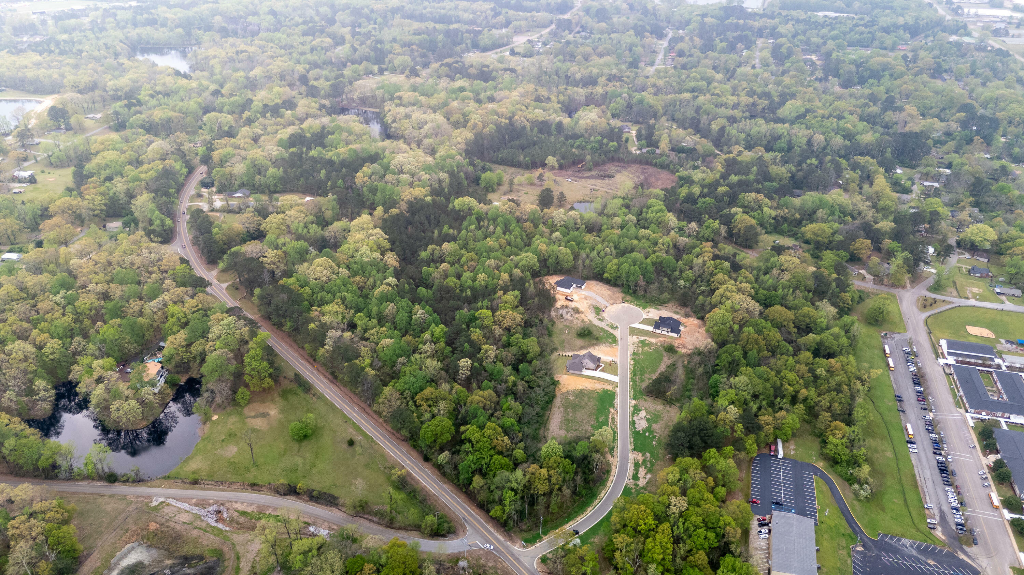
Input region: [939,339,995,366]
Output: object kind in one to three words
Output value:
building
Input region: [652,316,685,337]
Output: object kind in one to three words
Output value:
house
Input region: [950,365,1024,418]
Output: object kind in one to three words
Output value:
building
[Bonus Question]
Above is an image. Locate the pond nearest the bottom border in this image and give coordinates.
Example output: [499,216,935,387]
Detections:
[20,376,203,480]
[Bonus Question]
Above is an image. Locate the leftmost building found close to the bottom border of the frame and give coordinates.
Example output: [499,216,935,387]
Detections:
[769,514,831,575]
